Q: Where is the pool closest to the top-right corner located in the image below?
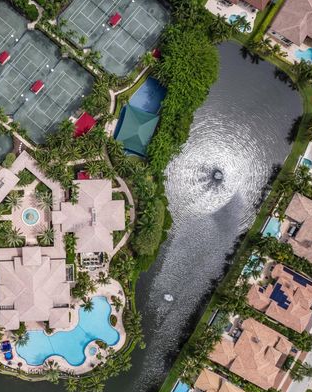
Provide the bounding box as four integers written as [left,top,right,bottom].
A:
[296,48,312,62]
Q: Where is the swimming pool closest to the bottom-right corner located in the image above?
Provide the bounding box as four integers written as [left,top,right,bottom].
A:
[208,310,232,332]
